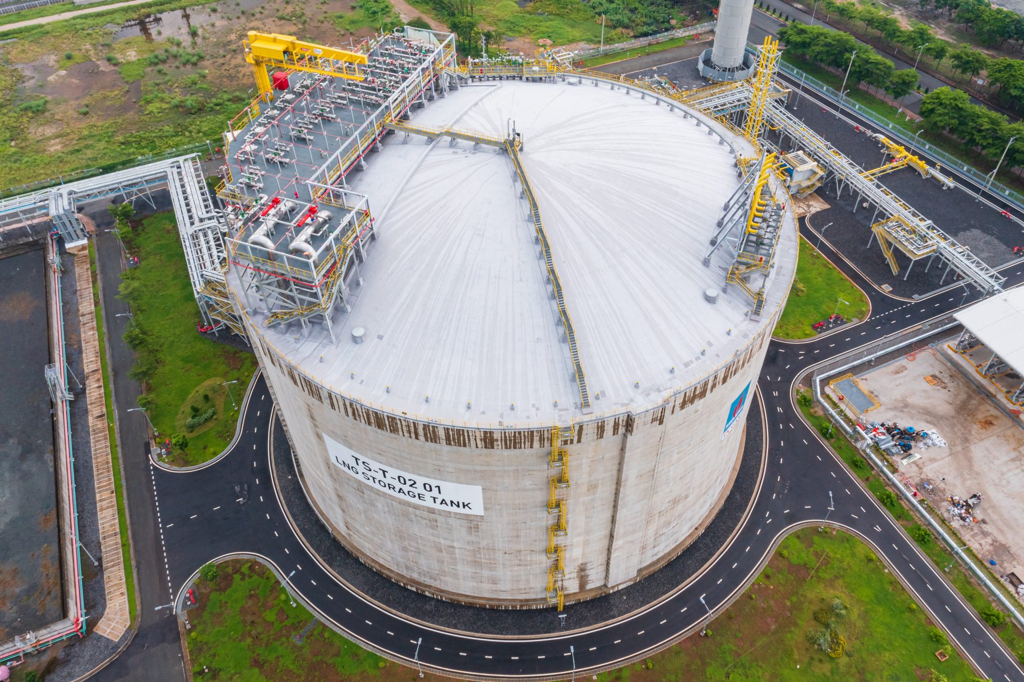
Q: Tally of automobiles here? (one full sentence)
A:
There are no automobiles in this view.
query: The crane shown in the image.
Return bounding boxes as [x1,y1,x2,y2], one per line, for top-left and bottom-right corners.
[239,27,369,105]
